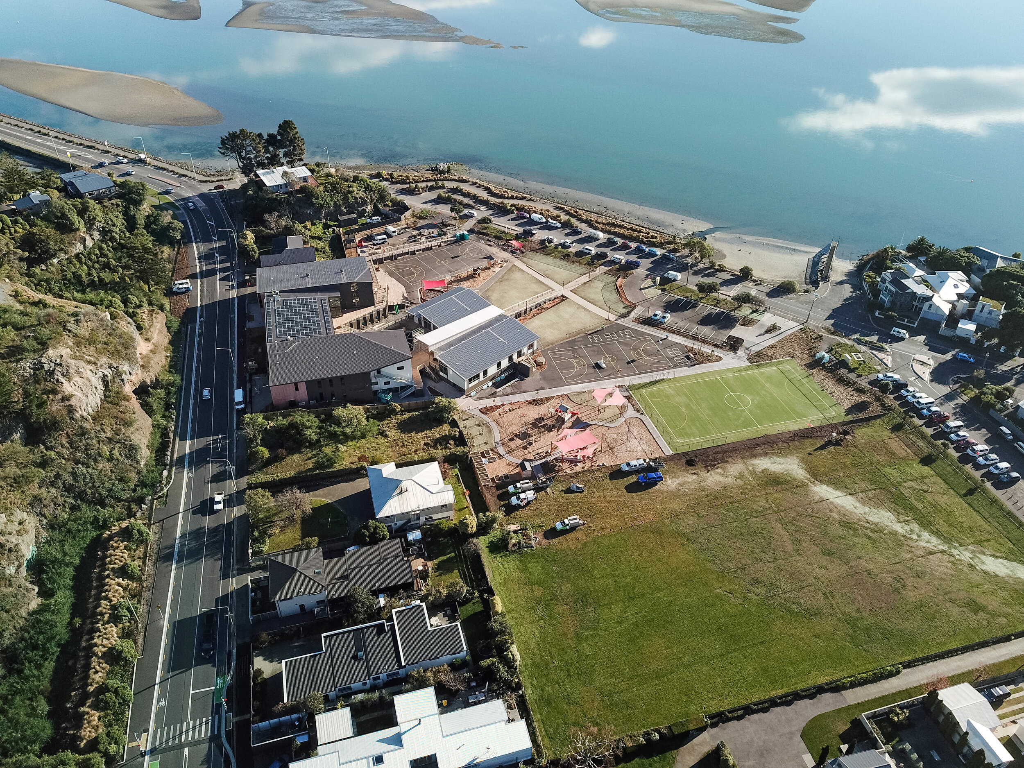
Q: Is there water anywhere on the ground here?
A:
Yes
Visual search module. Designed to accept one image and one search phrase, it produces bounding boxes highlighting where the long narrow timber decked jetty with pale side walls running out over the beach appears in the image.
[820,233,841,285]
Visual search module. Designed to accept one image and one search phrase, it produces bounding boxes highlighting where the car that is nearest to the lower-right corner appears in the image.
[982,684,1014,703]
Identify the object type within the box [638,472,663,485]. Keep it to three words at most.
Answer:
vehicle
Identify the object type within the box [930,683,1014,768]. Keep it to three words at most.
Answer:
house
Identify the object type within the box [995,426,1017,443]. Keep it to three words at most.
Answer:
car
